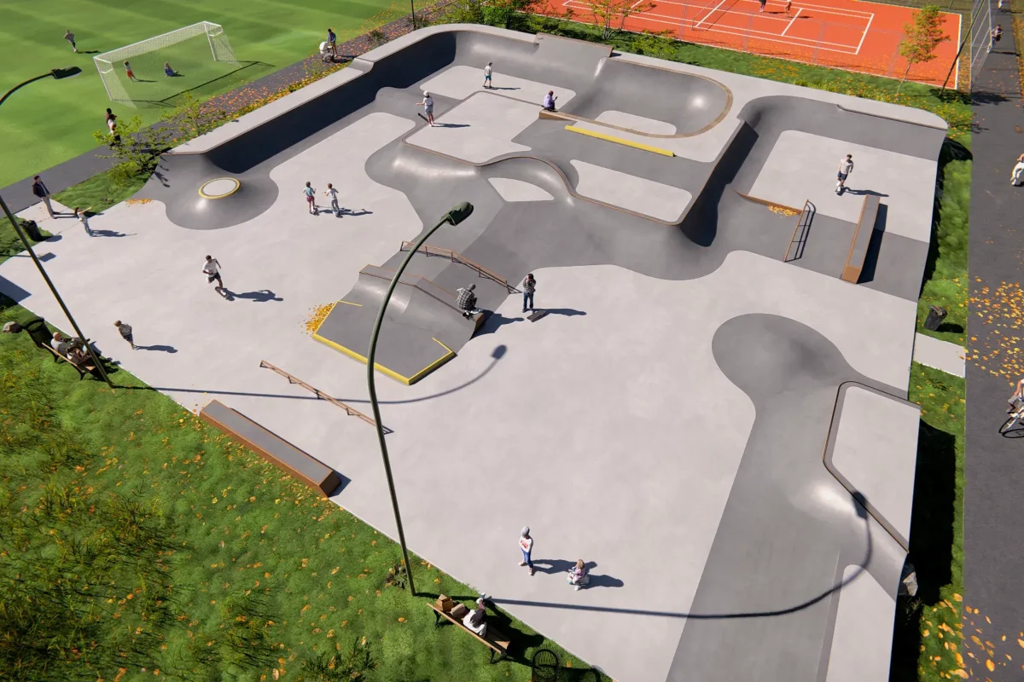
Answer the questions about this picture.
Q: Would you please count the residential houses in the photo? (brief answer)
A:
zero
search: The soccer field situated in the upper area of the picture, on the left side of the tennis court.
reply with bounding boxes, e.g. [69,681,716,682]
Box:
[0,0,424,185]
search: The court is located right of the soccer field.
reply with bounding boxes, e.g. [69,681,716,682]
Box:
[449,0,962,89]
